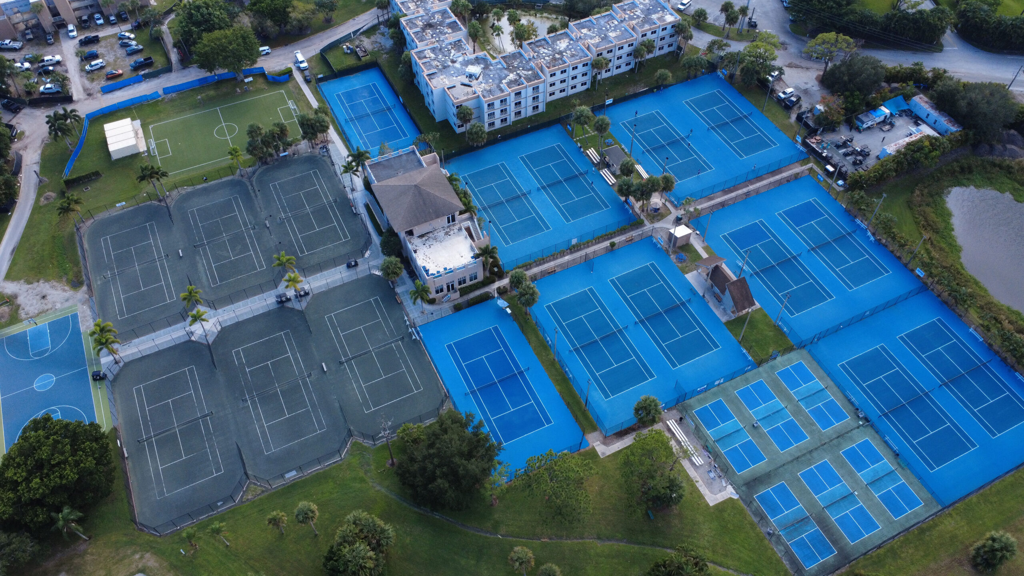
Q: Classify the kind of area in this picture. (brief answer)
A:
sports ground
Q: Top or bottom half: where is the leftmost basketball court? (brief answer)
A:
bottom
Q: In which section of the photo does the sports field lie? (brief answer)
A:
top left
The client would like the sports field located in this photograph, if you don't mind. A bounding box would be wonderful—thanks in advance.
[145,83,318,182]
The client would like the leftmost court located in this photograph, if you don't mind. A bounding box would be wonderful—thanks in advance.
[0,296,117,467]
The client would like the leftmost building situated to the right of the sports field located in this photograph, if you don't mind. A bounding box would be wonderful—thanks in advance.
[367,148,491,299]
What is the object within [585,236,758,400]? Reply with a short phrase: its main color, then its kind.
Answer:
blue tennis court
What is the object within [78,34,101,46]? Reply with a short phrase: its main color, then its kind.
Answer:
black vehicle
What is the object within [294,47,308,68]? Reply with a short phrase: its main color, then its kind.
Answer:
white vehicle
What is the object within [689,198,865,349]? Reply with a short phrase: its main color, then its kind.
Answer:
blue tennis court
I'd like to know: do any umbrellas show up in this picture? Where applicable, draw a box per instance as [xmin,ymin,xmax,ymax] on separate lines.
[496,296,512,308]
[651,196,665,206]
